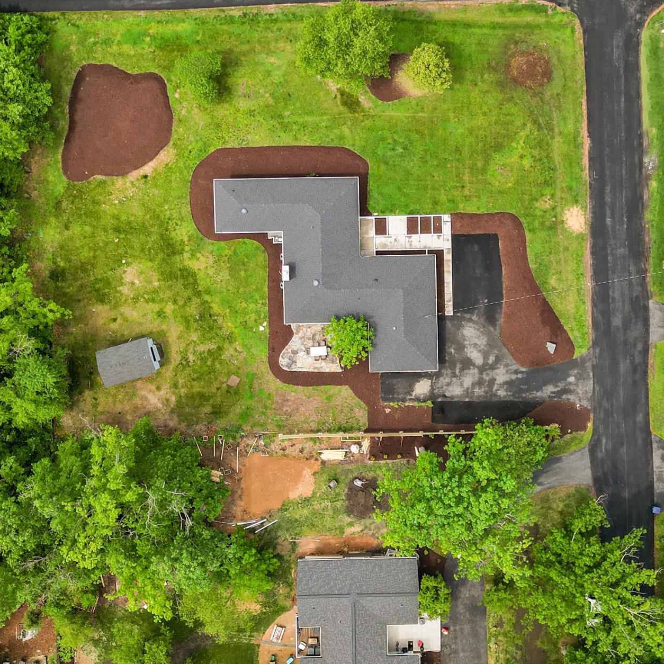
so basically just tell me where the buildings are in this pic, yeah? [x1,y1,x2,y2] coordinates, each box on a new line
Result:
[292,552,442,664]
[95,340,166,387]
[213,176,438,374]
